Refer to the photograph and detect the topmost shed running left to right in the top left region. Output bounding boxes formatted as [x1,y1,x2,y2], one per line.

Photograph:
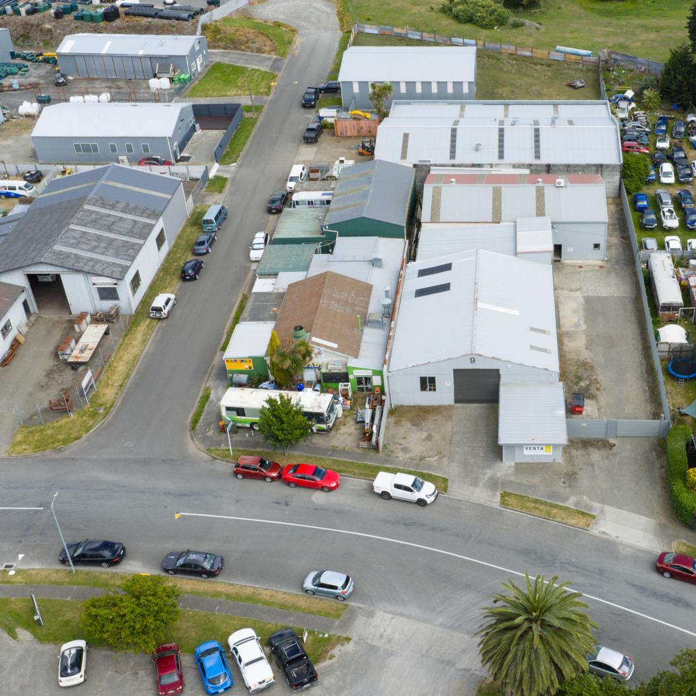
[55,34,212,78]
